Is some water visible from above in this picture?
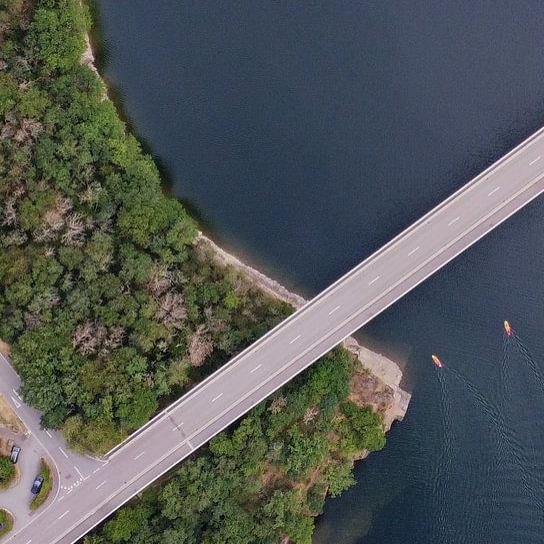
Yes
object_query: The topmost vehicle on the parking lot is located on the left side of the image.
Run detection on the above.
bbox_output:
[10,445,22,463]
